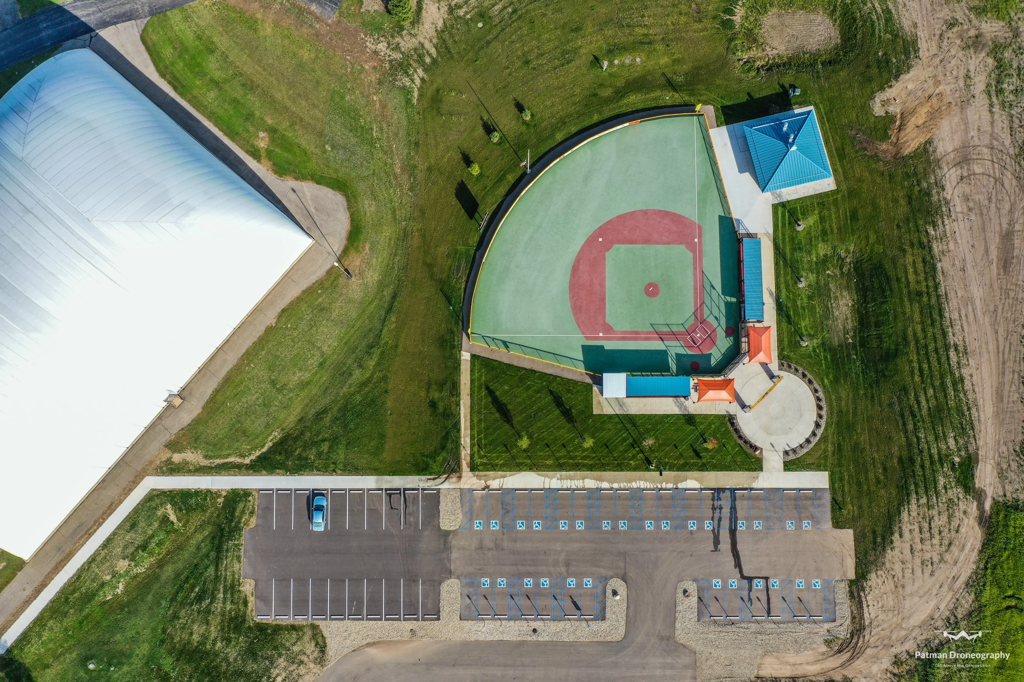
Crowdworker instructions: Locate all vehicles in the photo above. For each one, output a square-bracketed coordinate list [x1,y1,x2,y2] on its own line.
[312,497,327,530]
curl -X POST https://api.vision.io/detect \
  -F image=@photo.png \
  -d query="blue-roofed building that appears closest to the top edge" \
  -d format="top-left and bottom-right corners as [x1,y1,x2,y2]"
[743,109,832,193]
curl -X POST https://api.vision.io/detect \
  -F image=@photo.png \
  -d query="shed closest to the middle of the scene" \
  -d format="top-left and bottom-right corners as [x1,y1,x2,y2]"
[602,373,627,398]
